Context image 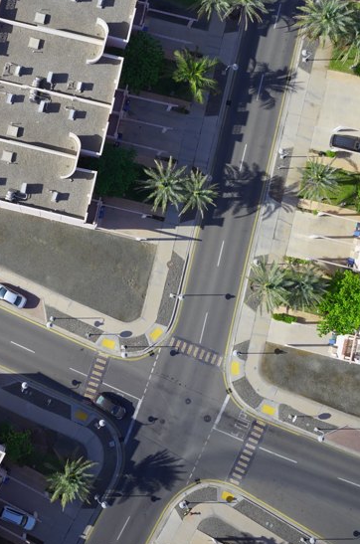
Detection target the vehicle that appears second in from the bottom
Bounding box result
[93,391,129,419]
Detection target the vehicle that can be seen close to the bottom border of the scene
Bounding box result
[0,504,36,529]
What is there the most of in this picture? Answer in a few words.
paved ground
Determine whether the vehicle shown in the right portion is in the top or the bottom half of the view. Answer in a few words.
top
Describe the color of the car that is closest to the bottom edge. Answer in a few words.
blue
